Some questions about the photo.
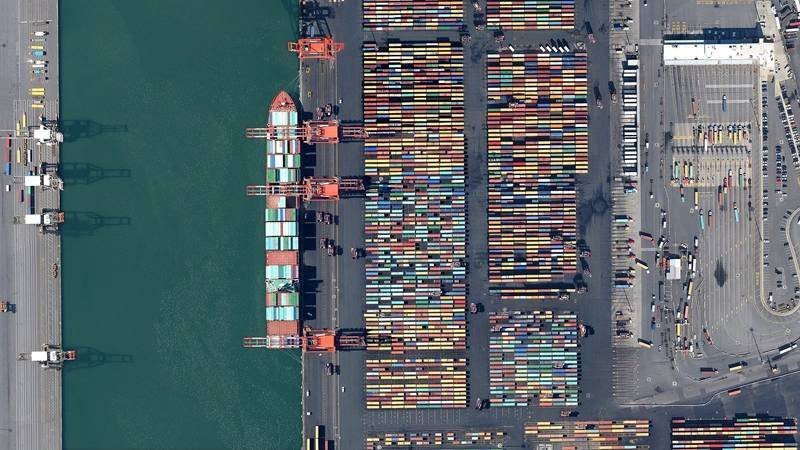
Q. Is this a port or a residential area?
port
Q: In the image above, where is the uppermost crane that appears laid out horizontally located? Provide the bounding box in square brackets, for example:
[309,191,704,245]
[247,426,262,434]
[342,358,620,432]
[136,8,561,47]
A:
[289,34,344,61]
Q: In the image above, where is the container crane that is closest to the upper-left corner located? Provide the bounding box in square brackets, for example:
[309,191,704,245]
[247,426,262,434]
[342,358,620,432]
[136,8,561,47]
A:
[18,118,63,149]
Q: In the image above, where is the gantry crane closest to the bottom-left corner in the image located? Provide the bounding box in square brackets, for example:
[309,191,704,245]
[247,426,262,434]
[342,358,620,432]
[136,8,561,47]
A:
[13,341,73,370]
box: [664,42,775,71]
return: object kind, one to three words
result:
building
